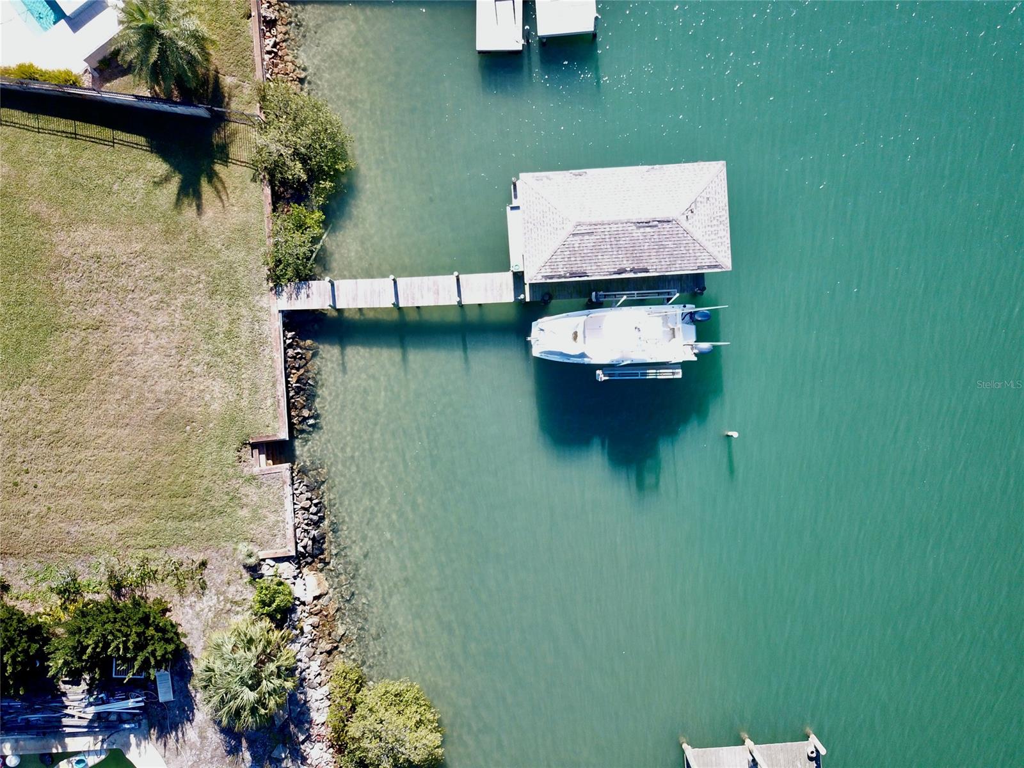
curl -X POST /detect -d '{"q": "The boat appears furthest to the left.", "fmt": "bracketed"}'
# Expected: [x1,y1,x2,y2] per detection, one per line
[60,748,111,768]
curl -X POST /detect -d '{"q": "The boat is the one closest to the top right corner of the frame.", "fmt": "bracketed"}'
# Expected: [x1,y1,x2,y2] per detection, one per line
[526,304,731,365]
